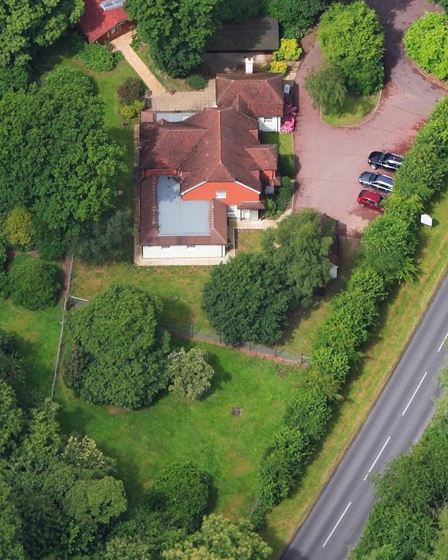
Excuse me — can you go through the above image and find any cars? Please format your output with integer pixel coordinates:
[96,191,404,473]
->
[356,194,388,212]
[368,154,411,178]
[359,172,402,198]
